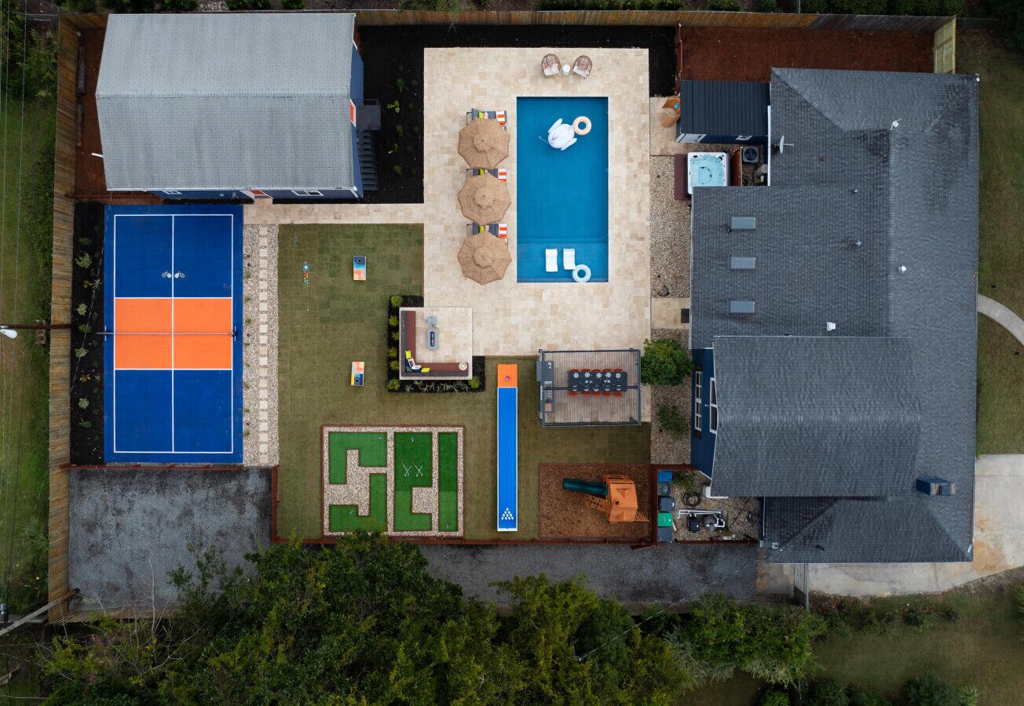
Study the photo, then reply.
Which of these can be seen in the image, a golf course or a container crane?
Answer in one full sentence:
The one in the frame is a golf course.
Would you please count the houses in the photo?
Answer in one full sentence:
I count 2 houses.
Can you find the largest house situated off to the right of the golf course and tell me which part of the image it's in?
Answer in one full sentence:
The largest house situated off to the right of the golf course is located in the right region of the scene.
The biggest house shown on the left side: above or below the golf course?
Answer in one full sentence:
As seen from overhead, the biggest house shown on the left side falls above the golf course in the picture.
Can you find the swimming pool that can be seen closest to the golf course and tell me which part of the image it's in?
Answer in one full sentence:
The swimming pool that can be seen closest to the golf course is located in the top region of the scene.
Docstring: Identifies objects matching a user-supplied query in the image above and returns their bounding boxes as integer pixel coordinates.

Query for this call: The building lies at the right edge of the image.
[689,67,980,564]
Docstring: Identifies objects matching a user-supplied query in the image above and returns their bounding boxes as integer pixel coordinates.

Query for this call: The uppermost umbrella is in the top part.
[458,117,510,169]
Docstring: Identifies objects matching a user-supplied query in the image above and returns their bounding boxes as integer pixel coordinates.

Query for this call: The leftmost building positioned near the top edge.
[96,13,387,204]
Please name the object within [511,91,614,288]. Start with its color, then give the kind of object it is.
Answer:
blue swimming pool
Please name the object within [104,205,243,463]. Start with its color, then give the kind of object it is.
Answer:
blue sports court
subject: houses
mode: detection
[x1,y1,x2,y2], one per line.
[96,13,387,204]
[689,67,980,564]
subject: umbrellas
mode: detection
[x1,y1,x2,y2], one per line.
[456,169,512,225]
[456,229,512,284]
[458,117,510,169]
